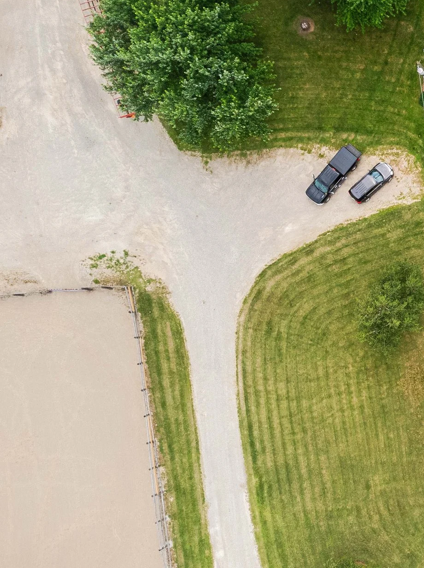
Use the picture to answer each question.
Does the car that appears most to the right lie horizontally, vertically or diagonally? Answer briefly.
diagonally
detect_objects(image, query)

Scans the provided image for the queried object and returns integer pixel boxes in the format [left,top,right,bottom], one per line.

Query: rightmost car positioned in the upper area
[348,161,395,205]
